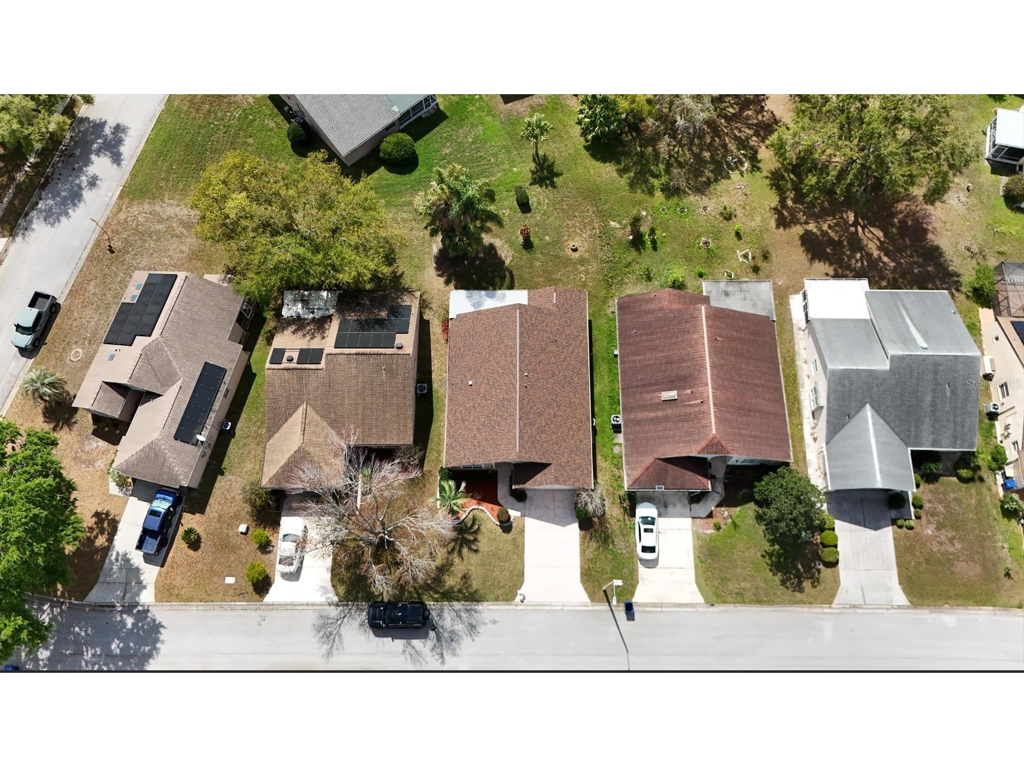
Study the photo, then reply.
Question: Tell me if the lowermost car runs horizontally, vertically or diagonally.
horizontally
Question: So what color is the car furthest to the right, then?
white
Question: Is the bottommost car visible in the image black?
Yes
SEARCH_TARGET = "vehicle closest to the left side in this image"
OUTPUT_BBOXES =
[18,293,65,354]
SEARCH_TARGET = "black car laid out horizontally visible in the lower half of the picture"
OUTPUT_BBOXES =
[369,602,430,632]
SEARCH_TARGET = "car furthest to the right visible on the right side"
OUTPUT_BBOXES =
[635,504,661,563]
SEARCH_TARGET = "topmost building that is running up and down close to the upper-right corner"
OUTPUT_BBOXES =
[984,81,1024,172]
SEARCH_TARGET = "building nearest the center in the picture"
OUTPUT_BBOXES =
[445,285,593,490]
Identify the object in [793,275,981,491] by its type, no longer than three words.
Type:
house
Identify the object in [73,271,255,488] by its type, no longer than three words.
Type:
house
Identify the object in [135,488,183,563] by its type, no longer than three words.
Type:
truck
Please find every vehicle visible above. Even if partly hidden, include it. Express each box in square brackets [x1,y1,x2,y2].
[278,516,306,577]
[635,504,661,563]
[135,488,183,563]
[369,602,430,632]
[18,293,65,354]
